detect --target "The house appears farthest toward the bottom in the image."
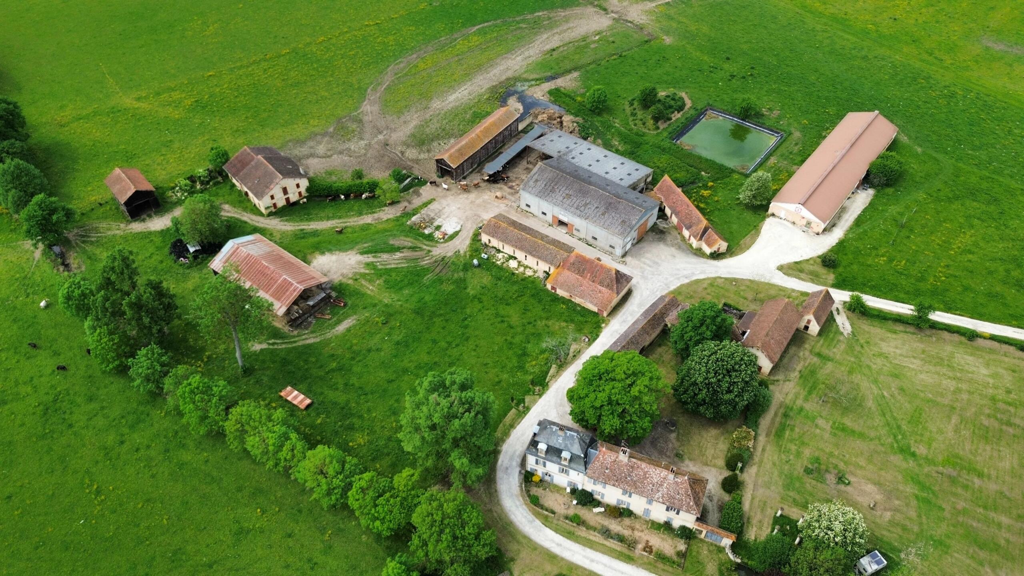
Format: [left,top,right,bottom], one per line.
[524,415,711,527]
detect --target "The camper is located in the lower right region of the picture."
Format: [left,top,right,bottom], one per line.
[854,550,888,576]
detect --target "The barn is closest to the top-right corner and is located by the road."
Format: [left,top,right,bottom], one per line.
[770,110,898,233]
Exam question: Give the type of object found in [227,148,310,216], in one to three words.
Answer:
house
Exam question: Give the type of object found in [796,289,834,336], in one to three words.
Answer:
building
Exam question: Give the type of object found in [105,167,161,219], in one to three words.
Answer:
shed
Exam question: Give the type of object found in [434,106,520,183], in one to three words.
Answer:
barn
